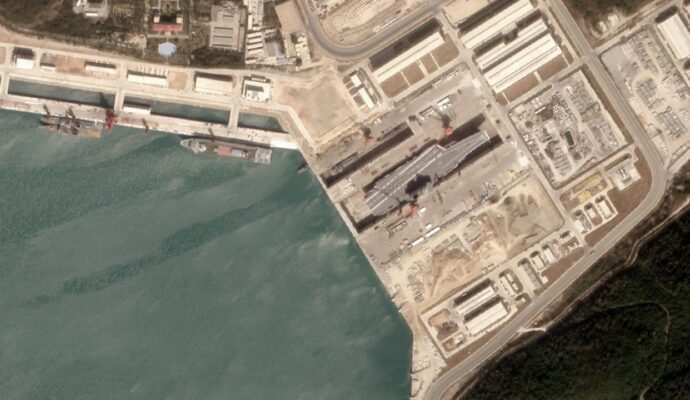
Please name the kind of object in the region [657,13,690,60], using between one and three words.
building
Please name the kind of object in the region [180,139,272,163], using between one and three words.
ship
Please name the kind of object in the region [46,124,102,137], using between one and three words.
ship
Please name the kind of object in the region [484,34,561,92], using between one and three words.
building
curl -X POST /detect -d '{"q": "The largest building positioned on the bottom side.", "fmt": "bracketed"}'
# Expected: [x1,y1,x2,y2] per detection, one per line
[465,300,508,335]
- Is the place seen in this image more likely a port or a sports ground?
port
